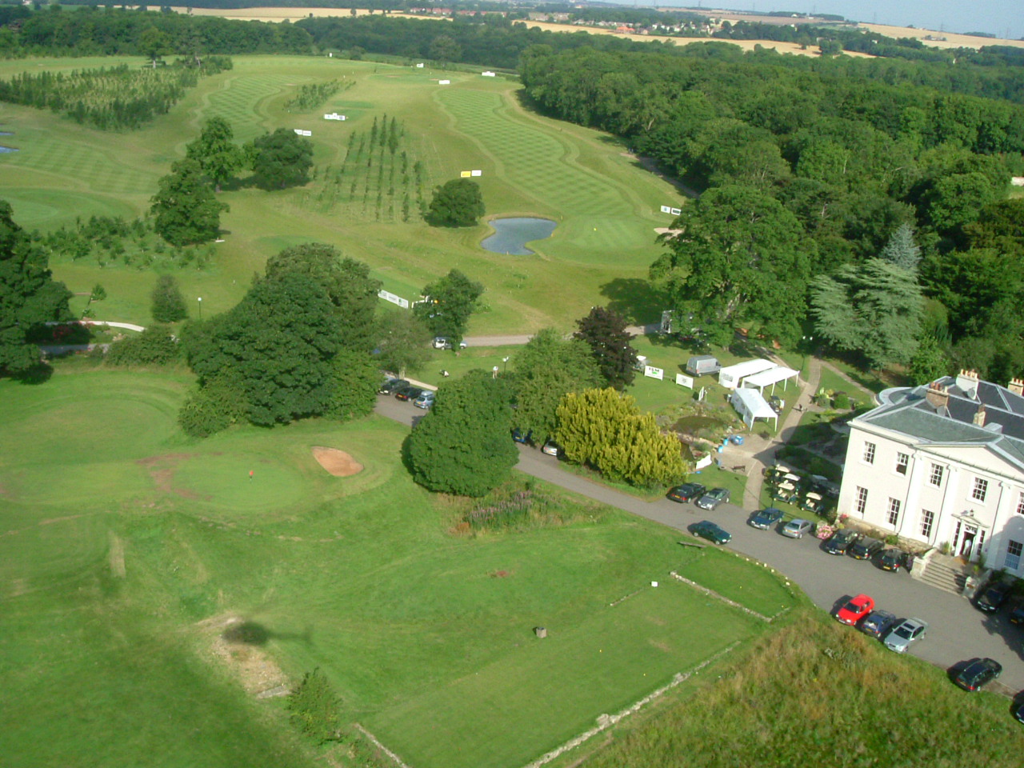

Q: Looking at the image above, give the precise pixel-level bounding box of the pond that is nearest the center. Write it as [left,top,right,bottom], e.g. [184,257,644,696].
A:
[481,216,555,255]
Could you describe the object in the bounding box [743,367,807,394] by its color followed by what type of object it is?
white tent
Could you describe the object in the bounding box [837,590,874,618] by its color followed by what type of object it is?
red car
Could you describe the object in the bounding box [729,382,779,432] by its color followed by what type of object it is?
white tent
